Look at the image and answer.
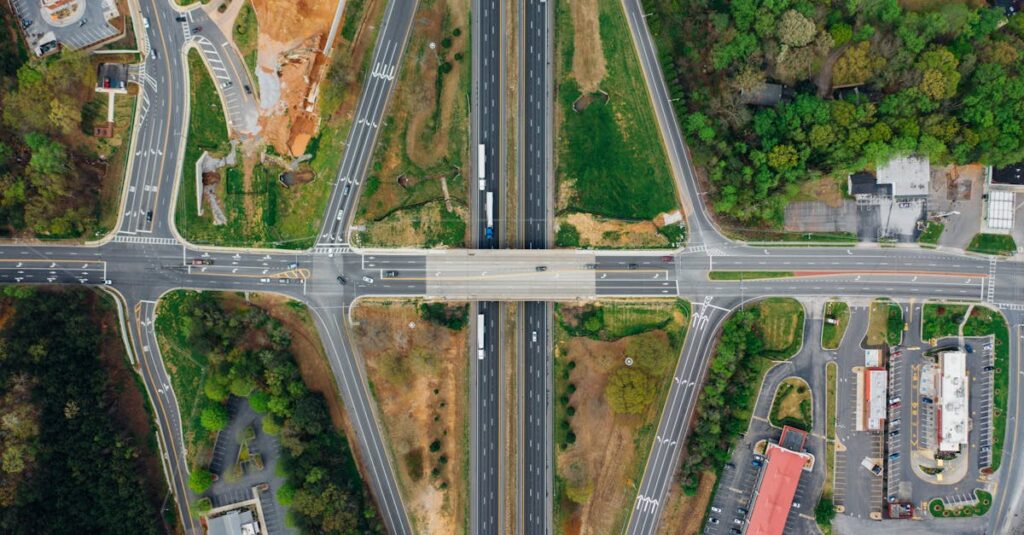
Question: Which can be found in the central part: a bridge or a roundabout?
bridge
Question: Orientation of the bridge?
from side to side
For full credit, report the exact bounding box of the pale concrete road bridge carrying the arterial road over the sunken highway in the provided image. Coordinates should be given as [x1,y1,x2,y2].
[424,249,597,301]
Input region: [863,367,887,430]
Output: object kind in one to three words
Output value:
building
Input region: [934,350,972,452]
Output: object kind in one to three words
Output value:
building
